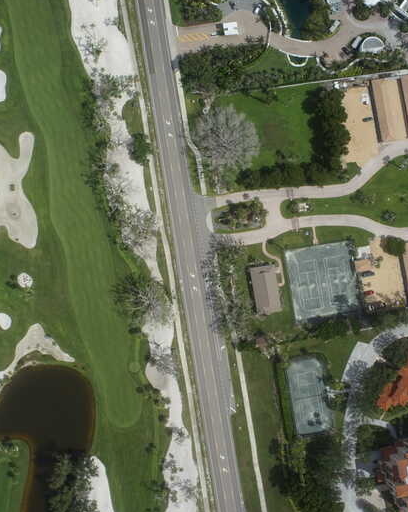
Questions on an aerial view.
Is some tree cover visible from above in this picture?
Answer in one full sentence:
Yes, tree cover can be seen from above here.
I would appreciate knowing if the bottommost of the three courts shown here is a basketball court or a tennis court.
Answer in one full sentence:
From above, the bottommost of the three courts can be identified as a tennis court.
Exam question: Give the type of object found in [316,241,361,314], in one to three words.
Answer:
tennis court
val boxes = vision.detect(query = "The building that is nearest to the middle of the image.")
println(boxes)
[250,264,287,315]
